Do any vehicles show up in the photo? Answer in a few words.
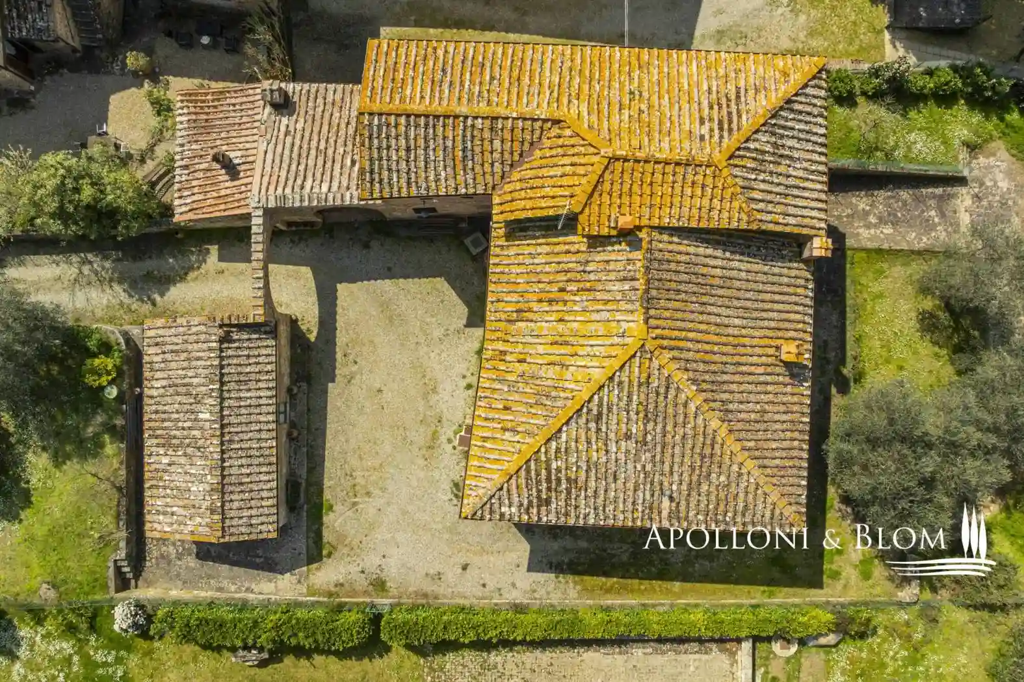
No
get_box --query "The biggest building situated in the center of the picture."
[356,36,831,531]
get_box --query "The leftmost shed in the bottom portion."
[141,313,291,546]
